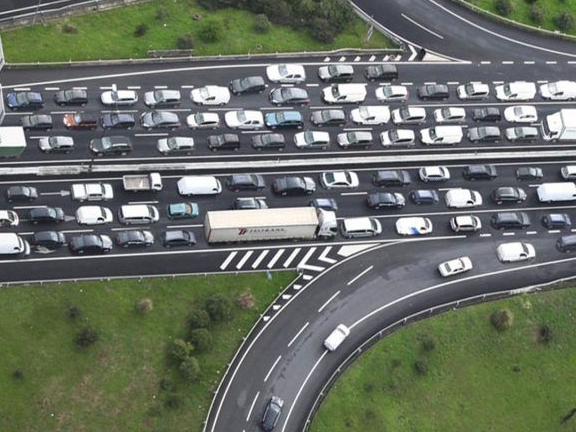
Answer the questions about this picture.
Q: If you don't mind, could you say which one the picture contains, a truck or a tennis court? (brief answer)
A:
truck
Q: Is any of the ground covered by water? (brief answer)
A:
No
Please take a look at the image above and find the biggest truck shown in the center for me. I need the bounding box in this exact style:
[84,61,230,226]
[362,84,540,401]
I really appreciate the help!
[202,206,336,242]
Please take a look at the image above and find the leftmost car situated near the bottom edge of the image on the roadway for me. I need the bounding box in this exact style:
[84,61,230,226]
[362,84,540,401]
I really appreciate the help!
[261,395,285,432]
